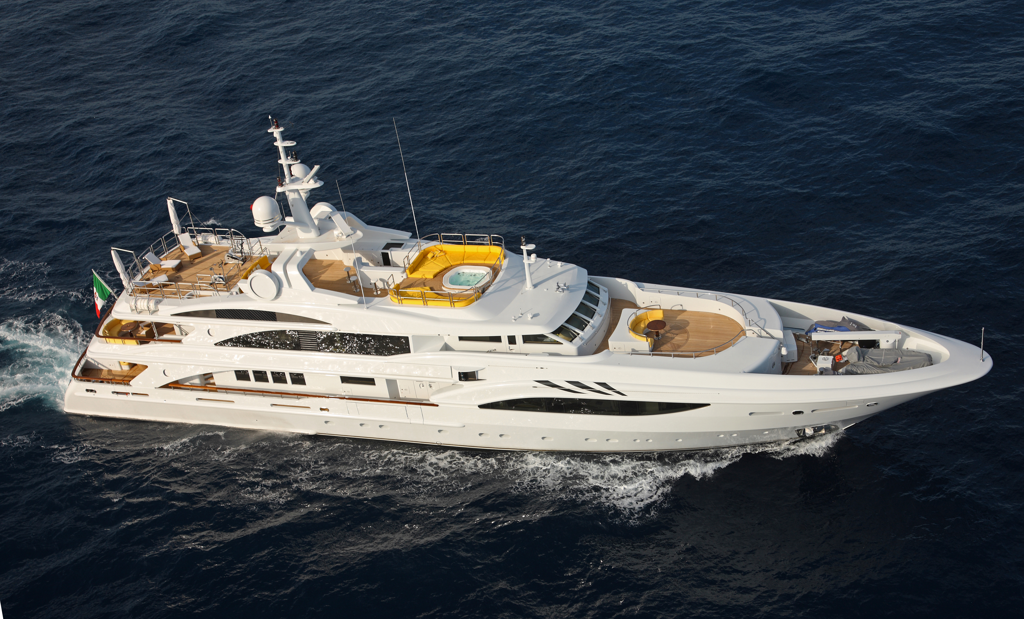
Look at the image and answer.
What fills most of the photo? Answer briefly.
water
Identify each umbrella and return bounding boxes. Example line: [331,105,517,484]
[111,247,151,296]
[168,196,212,245]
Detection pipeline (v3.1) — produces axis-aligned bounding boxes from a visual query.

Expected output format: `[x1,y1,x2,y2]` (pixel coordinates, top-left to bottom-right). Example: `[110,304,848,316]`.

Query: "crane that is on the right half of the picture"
[807,331,902,356]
